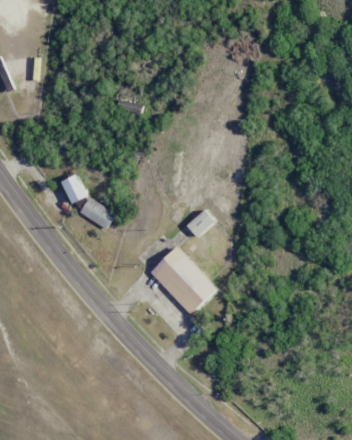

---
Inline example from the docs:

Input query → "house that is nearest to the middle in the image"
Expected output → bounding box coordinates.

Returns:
[188,208,218,238]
